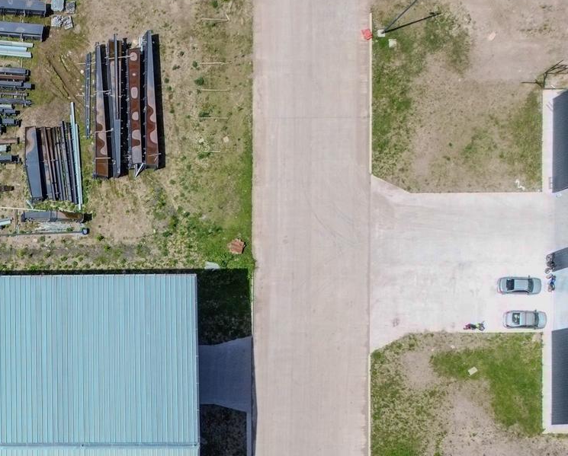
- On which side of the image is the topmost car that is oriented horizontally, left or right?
right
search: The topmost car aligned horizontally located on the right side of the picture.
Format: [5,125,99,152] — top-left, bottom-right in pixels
[495,274,541,295]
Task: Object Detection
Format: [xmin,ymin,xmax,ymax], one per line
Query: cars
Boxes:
[495,274,541,295]
[500,308,545,330]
